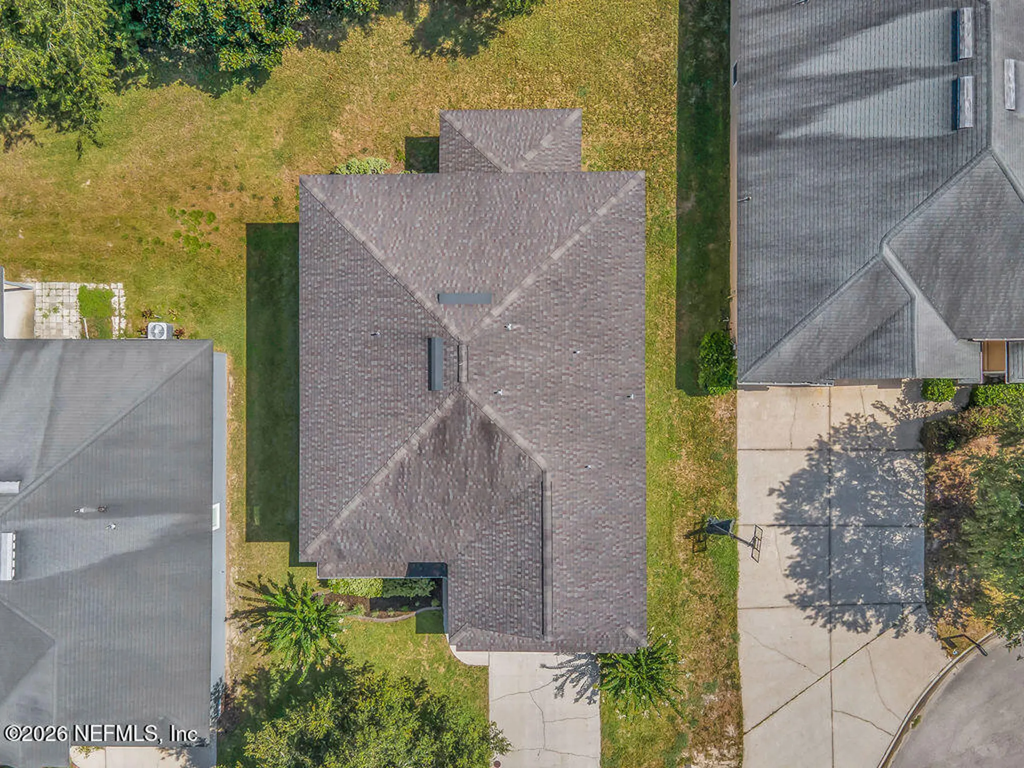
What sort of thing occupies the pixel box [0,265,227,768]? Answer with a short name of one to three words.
house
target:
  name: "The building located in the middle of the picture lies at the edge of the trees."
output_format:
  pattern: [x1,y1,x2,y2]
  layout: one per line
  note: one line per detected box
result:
[298,107,647,652]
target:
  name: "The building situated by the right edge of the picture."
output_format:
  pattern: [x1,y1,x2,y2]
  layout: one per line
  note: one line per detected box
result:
[731,0,1024,385]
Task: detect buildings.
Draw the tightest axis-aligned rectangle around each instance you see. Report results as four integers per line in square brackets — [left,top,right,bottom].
[0,265,227,768]
[298,107,647,652]
[731,0,1024,385]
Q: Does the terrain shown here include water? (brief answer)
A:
No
